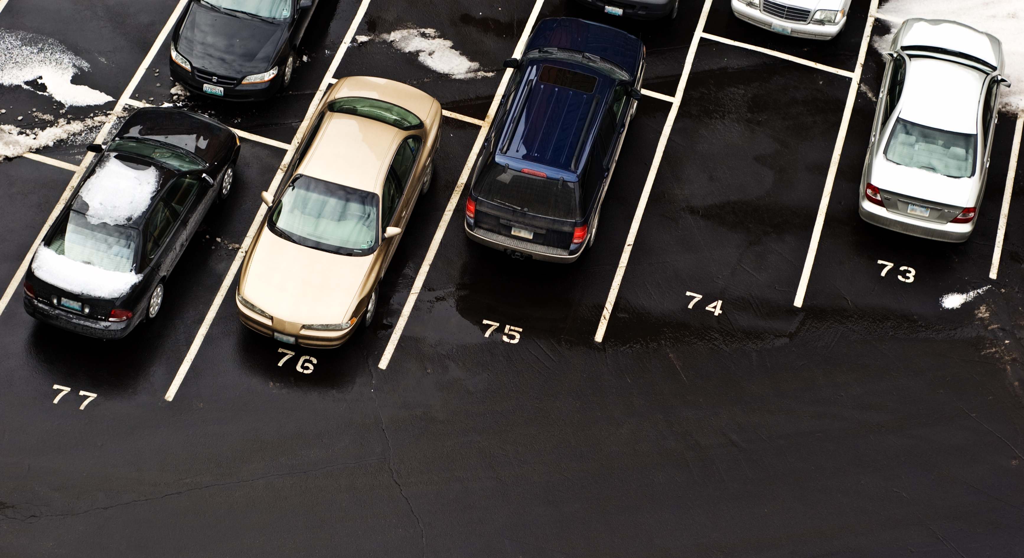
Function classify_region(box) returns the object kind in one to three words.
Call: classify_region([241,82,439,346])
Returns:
car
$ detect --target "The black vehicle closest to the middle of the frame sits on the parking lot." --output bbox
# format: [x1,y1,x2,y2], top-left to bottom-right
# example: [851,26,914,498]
[466,21,644,266]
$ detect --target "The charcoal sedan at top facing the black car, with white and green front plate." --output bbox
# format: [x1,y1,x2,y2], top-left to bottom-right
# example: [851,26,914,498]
[173,0,316,102]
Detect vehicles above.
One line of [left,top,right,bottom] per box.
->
[731,0,849,40]
[577,0,679,23]
[860,20,1013,243]
[173,0,316,102]
[241,82,439,346]
[26,103,237,337]
[466,21,644,266]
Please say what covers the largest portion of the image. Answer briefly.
paved ground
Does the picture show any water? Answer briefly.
No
